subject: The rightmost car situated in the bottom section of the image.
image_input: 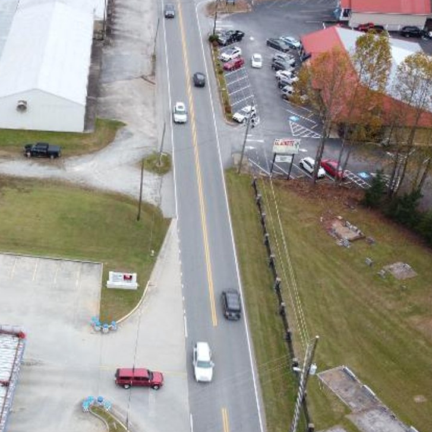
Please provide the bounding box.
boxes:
[222,290,242,317]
